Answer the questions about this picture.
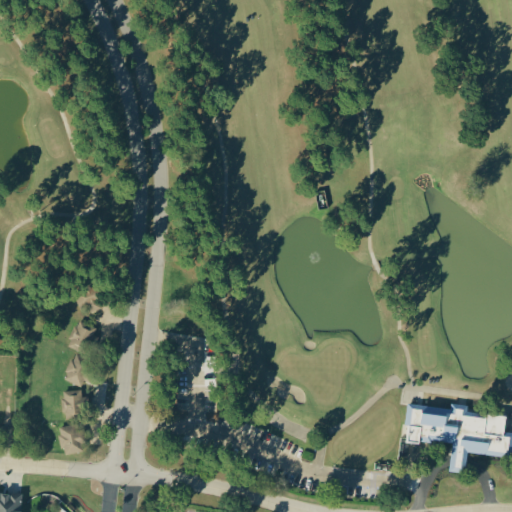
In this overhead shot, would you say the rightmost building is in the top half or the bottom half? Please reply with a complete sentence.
The rightmost building is in the bottom half of the image.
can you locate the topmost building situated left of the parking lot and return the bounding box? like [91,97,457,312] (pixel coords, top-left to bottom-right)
[64,324,95,352]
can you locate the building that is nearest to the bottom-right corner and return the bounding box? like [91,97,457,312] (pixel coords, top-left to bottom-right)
[406,404,512,474]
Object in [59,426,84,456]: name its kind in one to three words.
house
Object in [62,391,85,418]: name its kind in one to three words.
house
